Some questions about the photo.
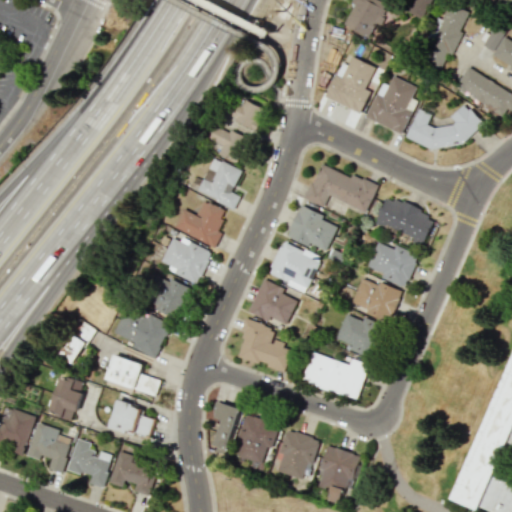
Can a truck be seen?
Yes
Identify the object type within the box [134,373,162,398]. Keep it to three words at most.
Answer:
house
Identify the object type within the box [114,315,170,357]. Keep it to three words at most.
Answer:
house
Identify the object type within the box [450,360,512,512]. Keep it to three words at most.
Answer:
building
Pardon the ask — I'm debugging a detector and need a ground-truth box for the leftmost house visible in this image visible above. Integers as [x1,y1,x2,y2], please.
[0,408,36,454]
